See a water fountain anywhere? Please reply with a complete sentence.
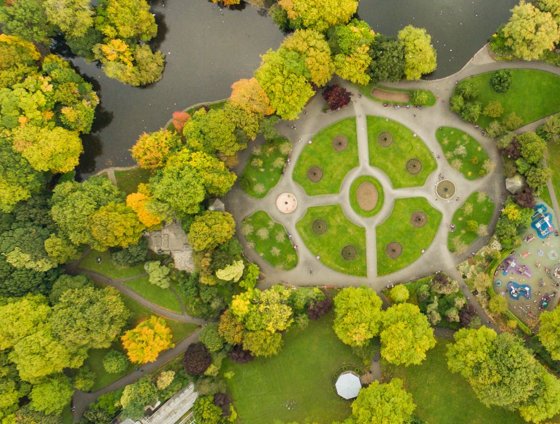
Yes, a water fountain can be made out from above.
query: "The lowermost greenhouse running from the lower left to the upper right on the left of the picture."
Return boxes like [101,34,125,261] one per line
[144,382,199,424]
